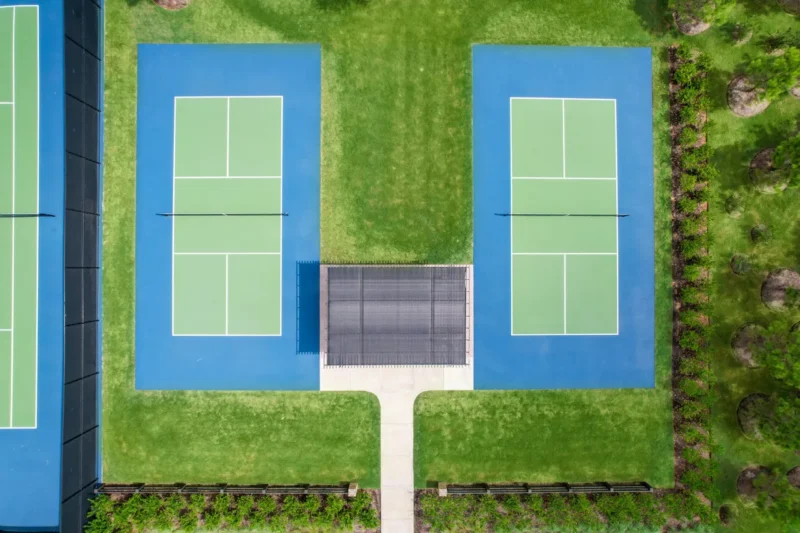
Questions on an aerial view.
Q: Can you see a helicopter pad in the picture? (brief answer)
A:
No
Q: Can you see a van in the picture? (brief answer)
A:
No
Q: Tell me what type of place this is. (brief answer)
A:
sports ground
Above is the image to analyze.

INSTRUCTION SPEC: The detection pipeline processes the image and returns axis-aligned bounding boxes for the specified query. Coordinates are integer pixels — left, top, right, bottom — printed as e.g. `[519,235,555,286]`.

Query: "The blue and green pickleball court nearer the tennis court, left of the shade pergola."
[134,42,321,391]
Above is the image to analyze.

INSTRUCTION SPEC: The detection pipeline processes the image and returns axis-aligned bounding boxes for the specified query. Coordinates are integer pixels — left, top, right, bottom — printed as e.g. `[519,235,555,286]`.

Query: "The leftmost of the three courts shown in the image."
[0,0,104,532]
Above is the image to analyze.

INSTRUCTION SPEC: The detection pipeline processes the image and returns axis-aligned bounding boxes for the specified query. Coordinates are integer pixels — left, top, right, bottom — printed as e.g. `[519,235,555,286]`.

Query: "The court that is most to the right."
[472,45,655,389]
